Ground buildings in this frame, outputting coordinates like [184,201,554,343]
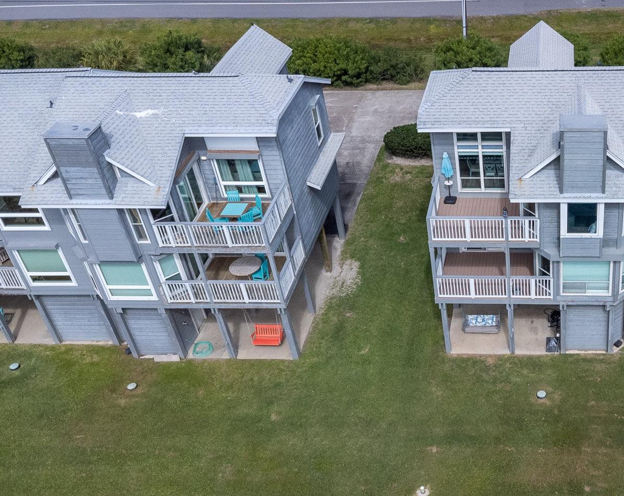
[416,20,624,353]
[20,25,349,358]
